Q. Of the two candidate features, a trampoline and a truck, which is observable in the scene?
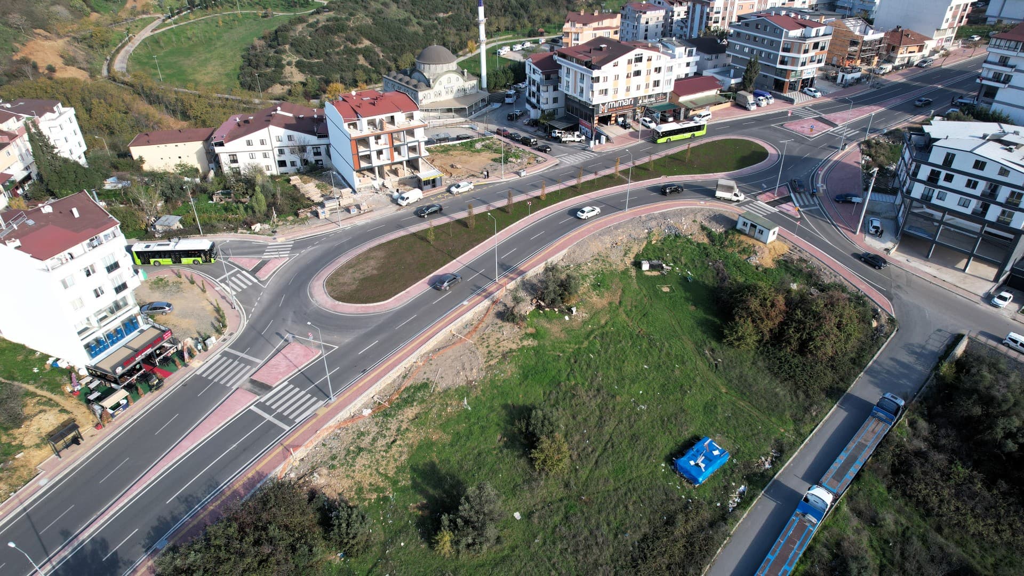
truck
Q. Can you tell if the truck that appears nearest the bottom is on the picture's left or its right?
right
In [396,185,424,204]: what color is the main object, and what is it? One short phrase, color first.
white vehicle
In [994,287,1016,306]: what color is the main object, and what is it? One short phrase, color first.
white car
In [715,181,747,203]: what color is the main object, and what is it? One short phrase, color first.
white truck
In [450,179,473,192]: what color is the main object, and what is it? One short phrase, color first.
white vehicle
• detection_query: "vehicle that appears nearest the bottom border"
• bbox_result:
[740,473,843,576]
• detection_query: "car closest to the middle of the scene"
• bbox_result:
[434,271,463,290]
